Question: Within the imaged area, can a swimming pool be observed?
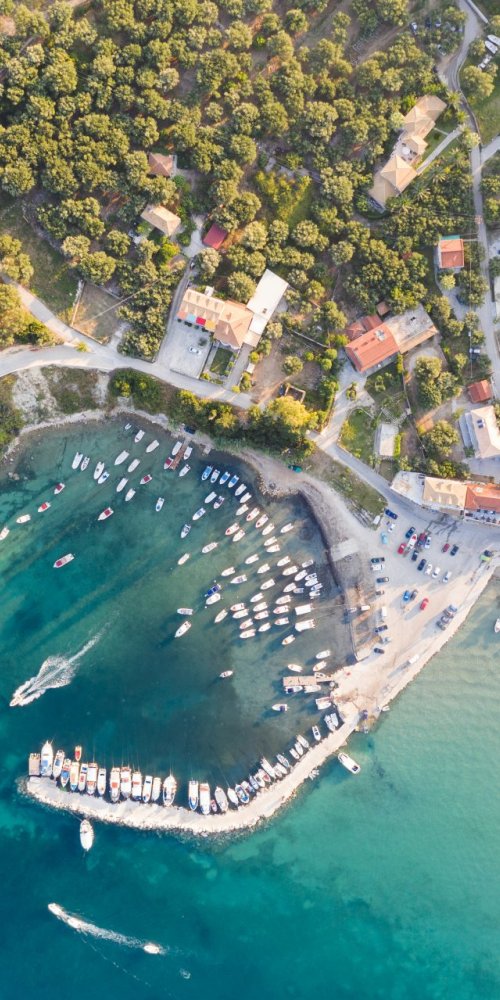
No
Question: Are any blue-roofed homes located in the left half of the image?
No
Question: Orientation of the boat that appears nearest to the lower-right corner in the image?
diagonally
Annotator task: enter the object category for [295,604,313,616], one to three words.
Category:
boat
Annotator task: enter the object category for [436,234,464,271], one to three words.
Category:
house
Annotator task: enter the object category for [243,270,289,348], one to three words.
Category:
building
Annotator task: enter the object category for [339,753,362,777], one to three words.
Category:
boat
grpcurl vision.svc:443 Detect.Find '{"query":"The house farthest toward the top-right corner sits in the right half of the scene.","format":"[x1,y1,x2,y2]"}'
[367,96,446,212]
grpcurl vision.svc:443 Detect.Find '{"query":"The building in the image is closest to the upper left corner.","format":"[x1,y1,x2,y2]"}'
[149,152,176,177]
